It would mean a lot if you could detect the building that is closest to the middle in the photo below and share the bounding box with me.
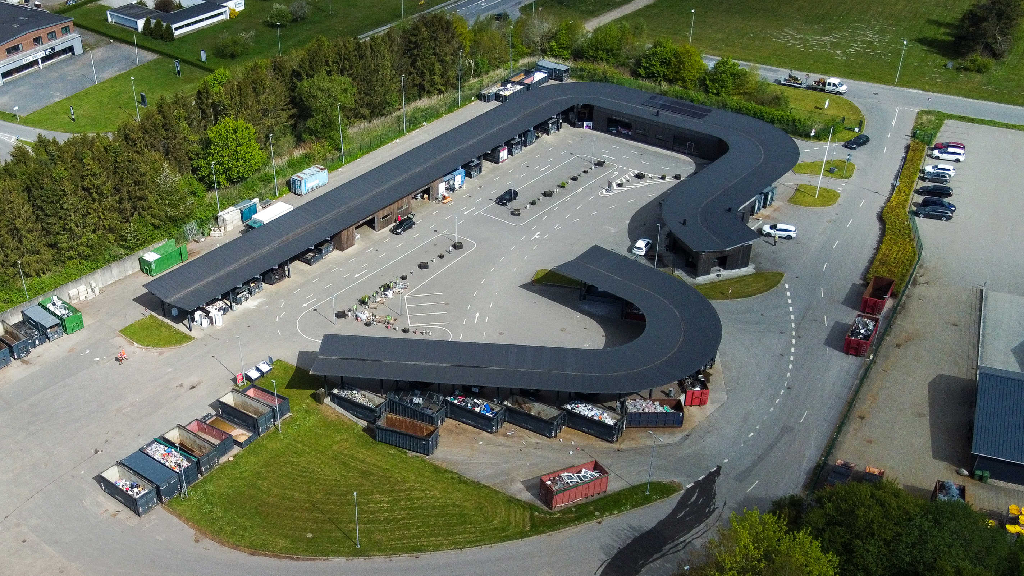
[143,78,799,331]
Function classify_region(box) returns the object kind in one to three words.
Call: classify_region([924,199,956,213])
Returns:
car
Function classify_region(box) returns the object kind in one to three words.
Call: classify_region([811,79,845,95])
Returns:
vehicle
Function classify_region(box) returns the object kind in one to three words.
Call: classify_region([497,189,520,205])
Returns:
car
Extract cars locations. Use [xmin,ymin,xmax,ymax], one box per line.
[936,140,964,151]
[924,199,956,213]
[925,172,949,185]
[917,207,950,221]
[632,238,651,255]
[391,211,417,234]
[925,164,955,178]
[847,134,870,149]
[764,224,795,240]
[933,148,962,162]
[921,186,952,200]
[497,189,520,205]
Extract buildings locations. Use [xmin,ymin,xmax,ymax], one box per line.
[107,0,246,39]
[143,78,799,331]
[0,0,83,84]
[968,290,1024,483]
